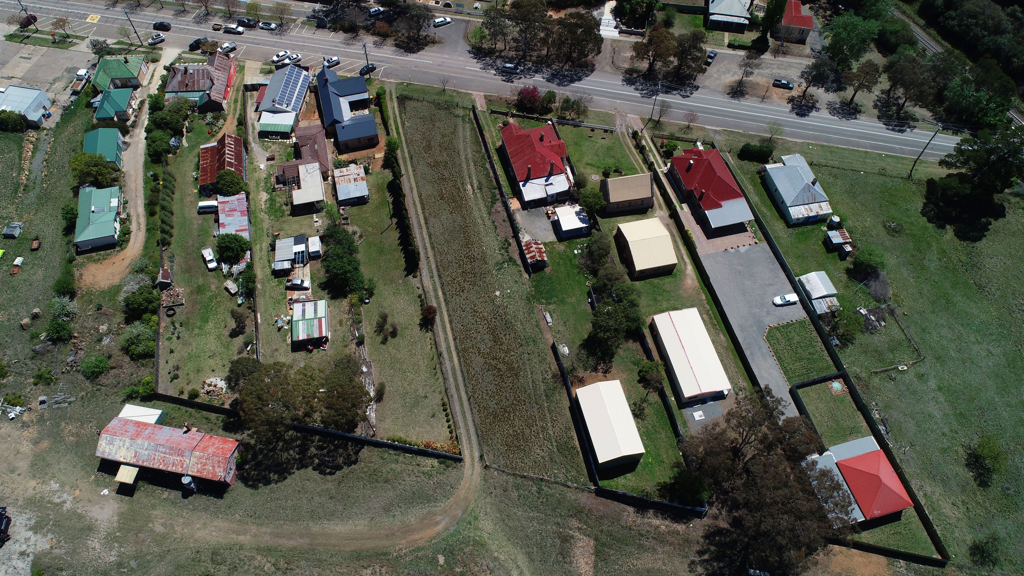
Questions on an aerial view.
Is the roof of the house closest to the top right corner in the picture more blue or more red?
red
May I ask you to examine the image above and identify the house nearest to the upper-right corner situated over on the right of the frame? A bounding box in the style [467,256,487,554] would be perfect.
[780,0,814,41]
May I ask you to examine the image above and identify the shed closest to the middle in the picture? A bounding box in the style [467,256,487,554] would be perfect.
[521,239,548,268]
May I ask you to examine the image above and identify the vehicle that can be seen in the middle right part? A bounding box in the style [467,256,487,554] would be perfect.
[771,293,803,308]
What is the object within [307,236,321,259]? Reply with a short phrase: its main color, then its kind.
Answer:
white camper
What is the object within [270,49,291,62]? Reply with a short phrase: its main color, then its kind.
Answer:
white vehicle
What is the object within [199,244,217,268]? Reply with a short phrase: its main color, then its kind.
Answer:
white vehicle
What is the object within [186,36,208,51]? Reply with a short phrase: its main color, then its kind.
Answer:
black vehicle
